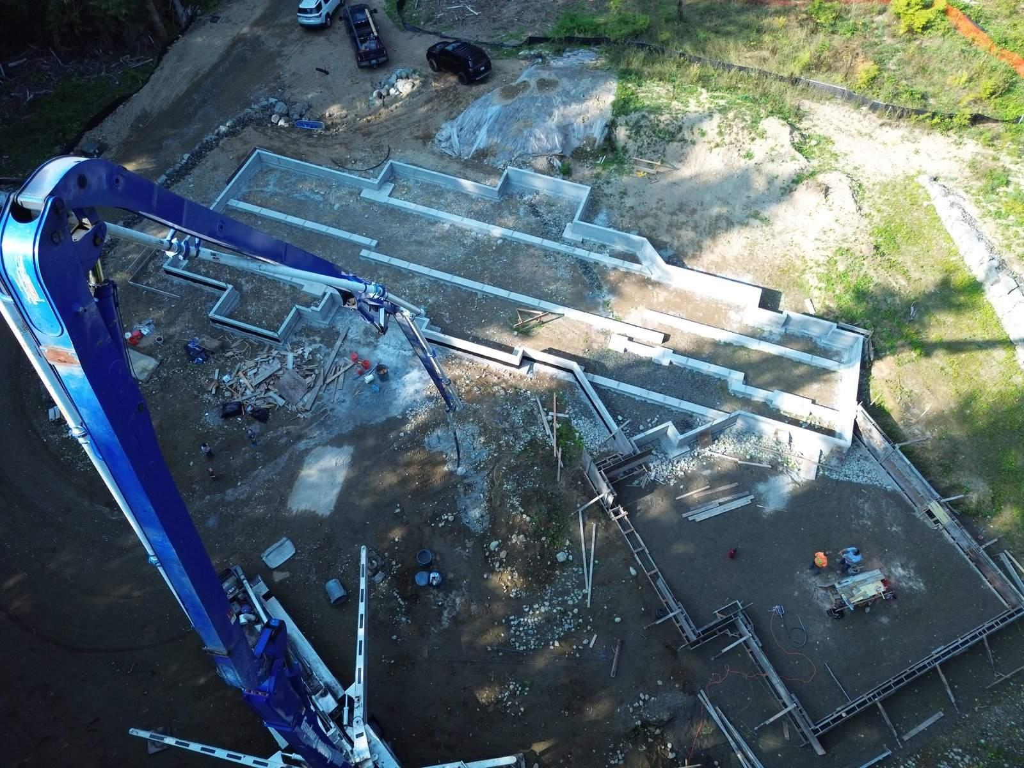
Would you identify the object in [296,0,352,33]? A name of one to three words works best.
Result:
car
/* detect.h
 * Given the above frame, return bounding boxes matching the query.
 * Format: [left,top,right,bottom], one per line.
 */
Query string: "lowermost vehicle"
[0,151,522,768]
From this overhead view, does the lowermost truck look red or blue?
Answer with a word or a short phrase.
blue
